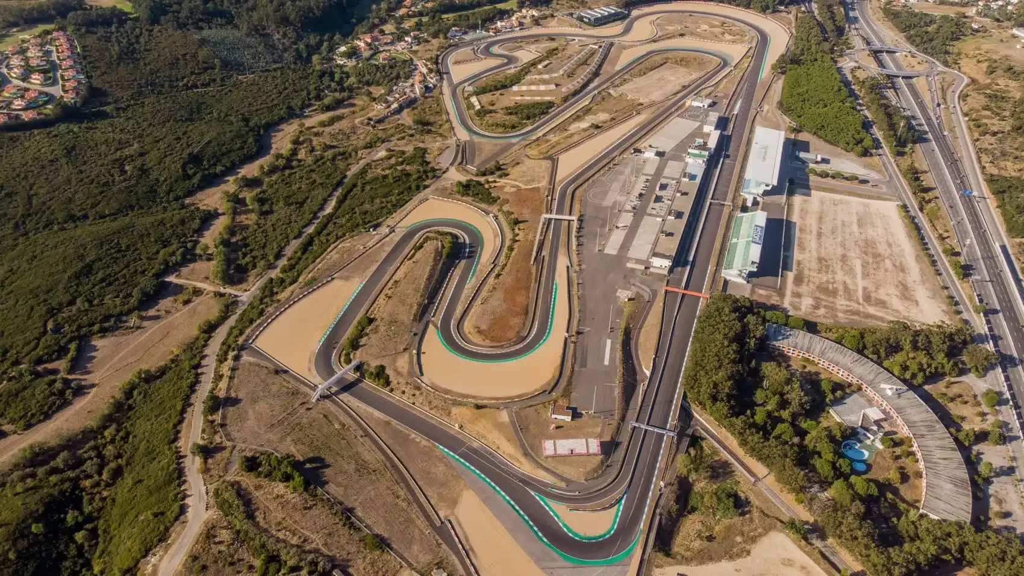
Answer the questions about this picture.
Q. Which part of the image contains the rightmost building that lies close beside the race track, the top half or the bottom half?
bottom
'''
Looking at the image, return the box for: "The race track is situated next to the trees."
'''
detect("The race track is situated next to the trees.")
[315,10,769,560]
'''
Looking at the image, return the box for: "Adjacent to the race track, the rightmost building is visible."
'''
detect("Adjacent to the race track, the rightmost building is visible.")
[765,323,972,531]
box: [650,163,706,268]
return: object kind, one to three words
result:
building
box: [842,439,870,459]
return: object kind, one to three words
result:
swimming pool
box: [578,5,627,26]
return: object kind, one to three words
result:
shed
